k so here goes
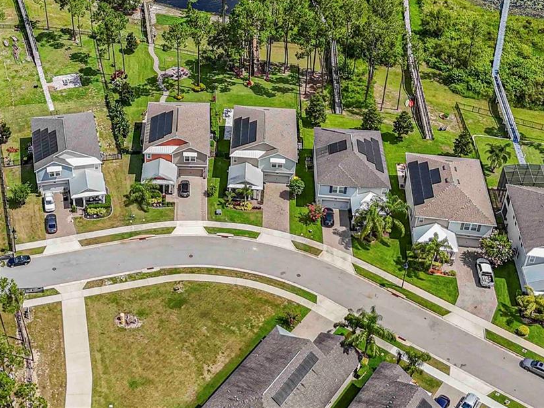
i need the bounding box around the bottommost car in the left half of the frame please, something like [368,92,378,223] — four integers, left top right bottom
[3,253,33,269]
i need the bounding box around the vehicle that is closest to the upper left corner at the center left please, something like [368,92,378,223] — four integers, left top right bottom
[42,193,55,211]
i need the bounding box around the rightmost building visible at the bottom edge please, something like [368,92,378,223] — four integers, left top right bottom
[347,366,432,408]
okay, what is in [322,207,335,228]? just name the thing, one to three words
vehicle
